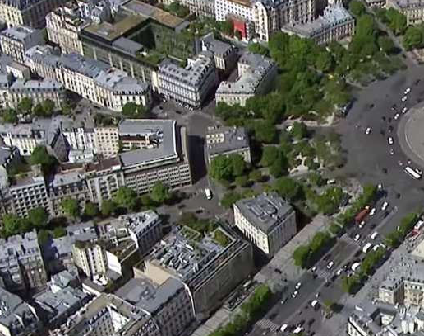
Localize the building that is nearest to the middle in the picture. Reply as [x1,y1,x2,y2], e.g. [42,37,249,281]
[205,125,252,178]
